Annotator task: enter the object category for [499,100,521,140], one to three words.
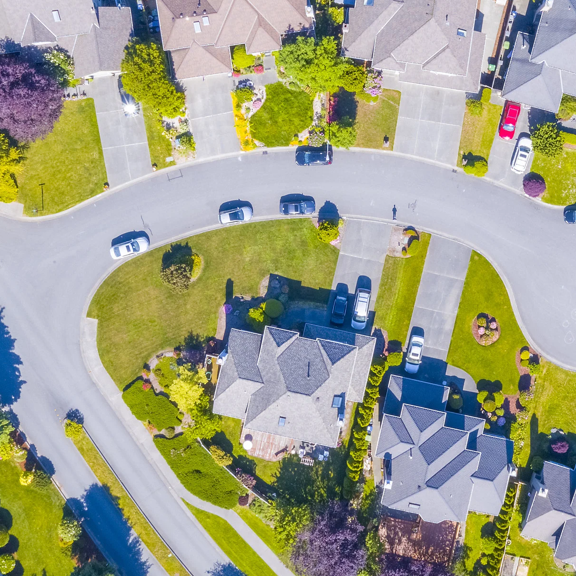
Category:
car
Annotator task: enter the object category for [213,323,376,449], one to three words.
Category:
house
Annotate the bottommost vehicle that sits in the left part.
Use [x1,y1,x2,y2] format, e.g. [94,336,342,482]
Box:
[107,236,152,261]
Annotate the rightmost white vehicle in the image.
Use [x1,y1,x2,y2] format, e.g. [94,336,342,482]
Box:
[510,134,534,175]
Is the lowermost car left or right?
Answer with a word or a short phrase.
right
